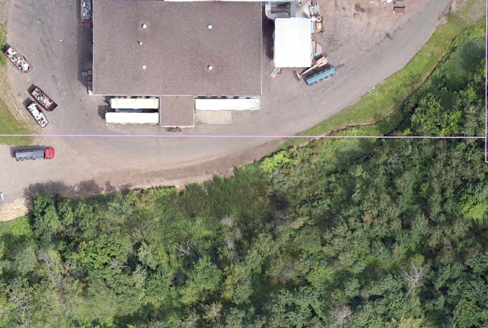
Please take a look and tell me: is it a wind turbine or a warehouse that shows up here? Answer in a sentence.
The image shows a warehouse.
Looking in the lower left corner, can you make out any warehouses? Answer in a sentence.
No, no warehouse can be made out in the lower left corner.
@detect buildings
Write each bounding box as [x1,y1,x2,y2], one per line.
[92,1,263,132]
[273,18,311,67]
